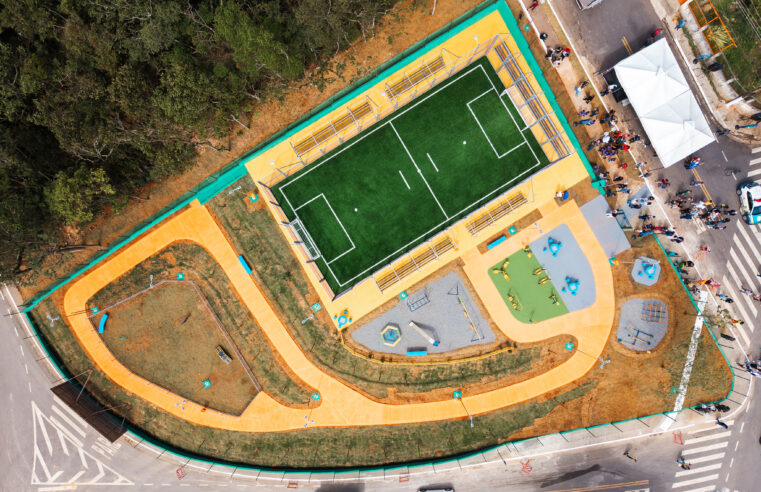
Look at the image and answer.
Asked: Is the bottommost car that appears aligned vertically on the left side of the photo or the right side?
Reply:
right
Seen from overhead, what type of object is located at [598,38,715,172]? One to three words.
tent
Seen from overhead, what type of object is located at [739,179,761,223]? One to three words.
car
